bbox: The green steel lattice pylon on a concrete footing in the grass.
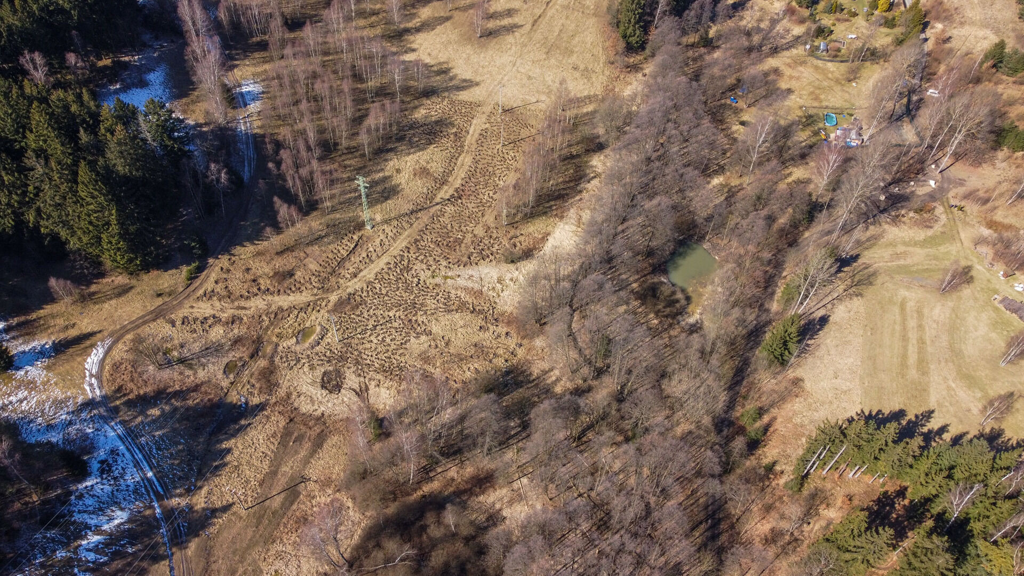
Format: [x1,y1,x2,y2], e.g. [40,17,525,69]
[355,177,374,232]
